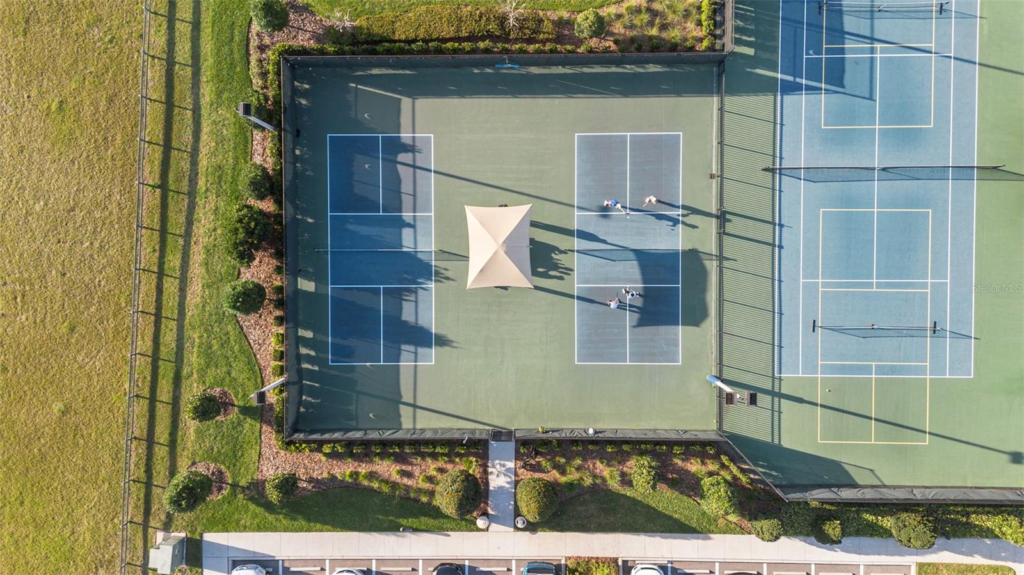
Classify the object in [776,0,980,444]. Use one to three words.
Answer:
tennis court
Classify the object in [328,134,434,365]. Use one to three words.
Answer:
sports court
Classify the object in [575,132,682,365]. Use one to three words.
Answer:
sports court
